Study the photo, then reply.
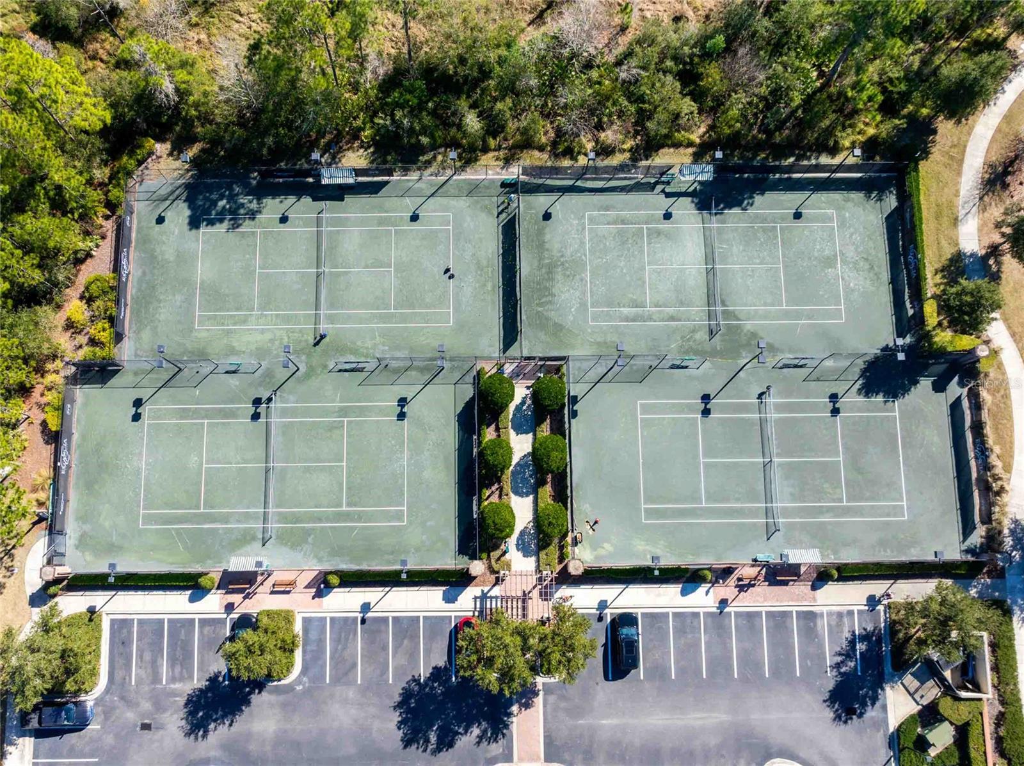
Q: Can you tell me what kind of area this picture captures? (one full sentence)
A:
This looks like a sports ground.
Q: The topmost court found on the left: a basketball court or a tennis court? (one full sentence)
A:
From above, the topmost court found on the left can be identified as a tennis court.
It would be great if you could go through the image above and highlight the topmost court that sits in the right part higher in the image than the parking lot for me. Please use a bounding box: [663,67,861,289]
[519,175,914,363]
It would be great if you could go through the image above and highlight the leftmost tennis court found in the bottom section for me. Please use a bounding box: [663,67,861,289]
[64,364,477,571]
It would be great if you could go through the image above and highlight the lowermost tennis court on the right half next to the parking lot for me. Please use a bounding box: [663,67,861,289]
[568,359,983,564]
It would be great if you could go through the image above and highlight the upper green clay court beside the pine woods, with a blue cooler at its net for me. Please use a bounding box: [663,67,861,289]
[124,178,520,368]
